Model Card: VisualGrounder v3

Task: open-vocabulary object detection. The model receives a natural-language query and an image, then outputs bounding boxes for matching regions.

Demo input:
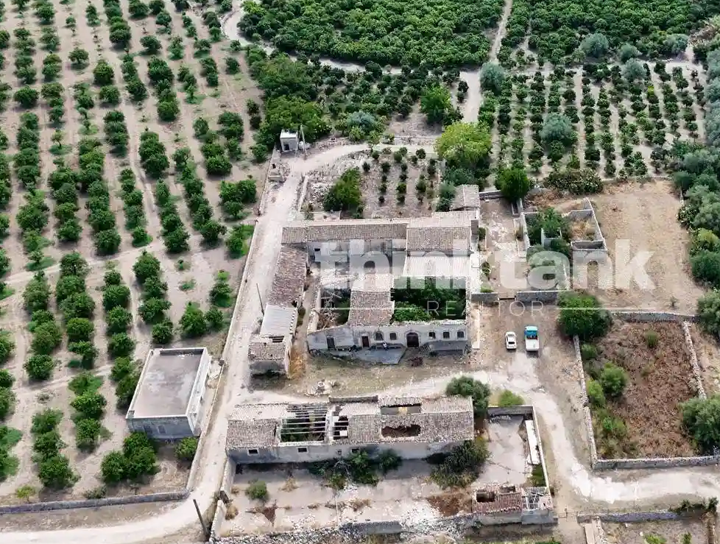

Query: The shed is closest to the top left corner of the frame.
[278,128,299,152]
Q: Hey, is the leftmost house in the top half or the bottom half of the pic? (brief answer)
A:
bottom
